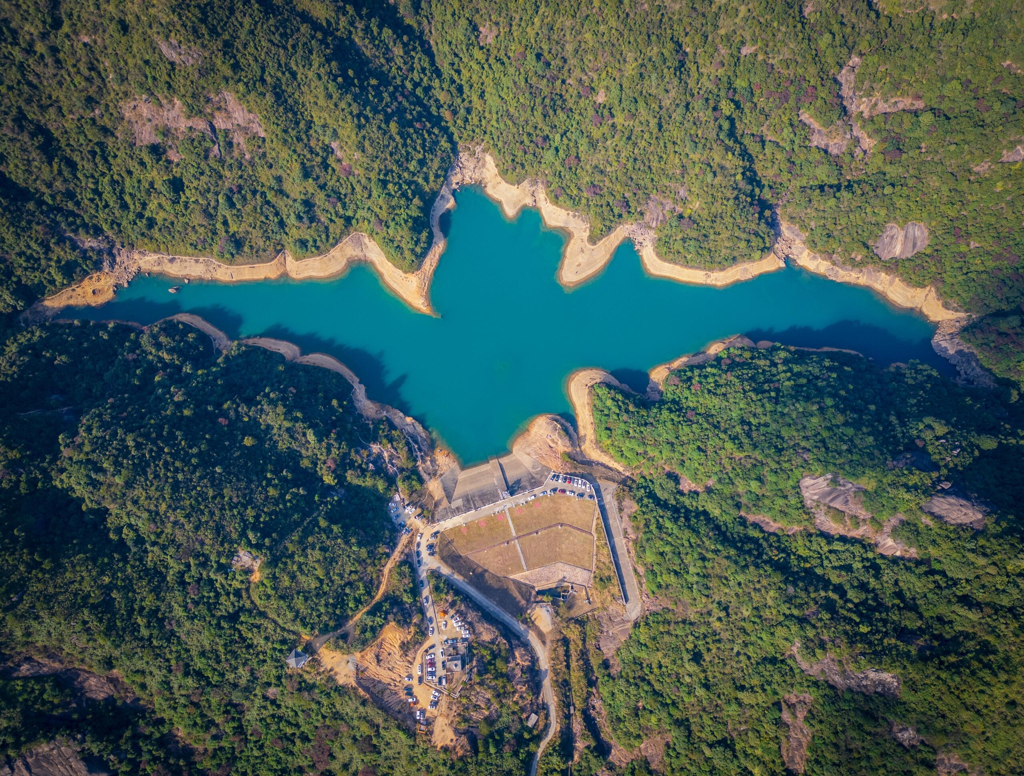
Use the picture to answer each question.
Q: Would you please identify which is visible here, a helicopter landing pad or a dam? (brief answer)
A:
dam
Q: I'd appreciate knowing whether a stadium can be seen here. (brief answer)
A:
No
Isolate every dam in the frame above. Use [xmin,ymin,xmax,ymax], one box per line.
[423,450,598,587]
